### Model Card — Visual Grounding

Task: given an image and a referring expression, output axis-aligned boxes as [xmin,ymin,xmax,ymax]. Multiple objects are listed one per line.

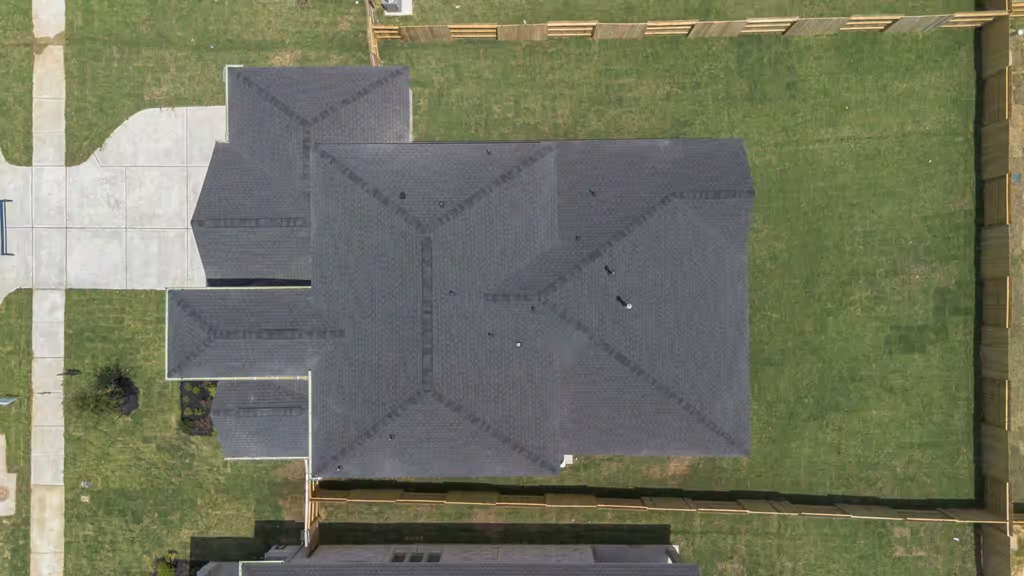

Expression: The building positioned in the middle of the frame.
[165,64,756,480]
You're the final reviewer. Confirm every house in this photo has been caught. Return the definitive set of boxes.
[207,544,702,576]
[165,64,756,480]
